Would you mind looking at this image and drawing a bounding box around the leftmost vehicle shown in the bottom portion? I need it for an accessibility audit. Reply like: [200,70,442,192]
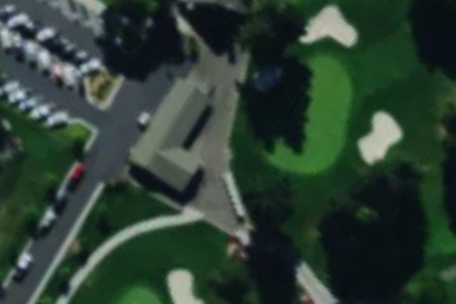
[16,251,33,271]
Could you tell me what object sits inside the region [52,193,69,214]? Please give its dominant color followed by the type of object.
black car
